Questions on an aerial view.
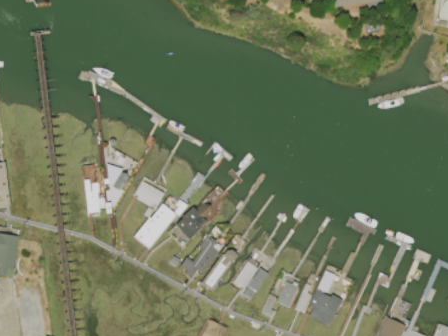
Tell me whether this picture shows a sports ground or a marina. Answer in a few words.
marina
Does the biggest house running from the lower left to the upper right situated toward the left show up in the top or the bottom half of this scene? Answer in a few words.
bottom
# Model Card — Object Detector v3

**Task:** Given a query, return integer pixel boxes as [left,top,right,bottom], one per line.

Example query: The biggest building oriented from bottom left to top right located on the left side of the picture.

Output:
[134,200,188,250]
